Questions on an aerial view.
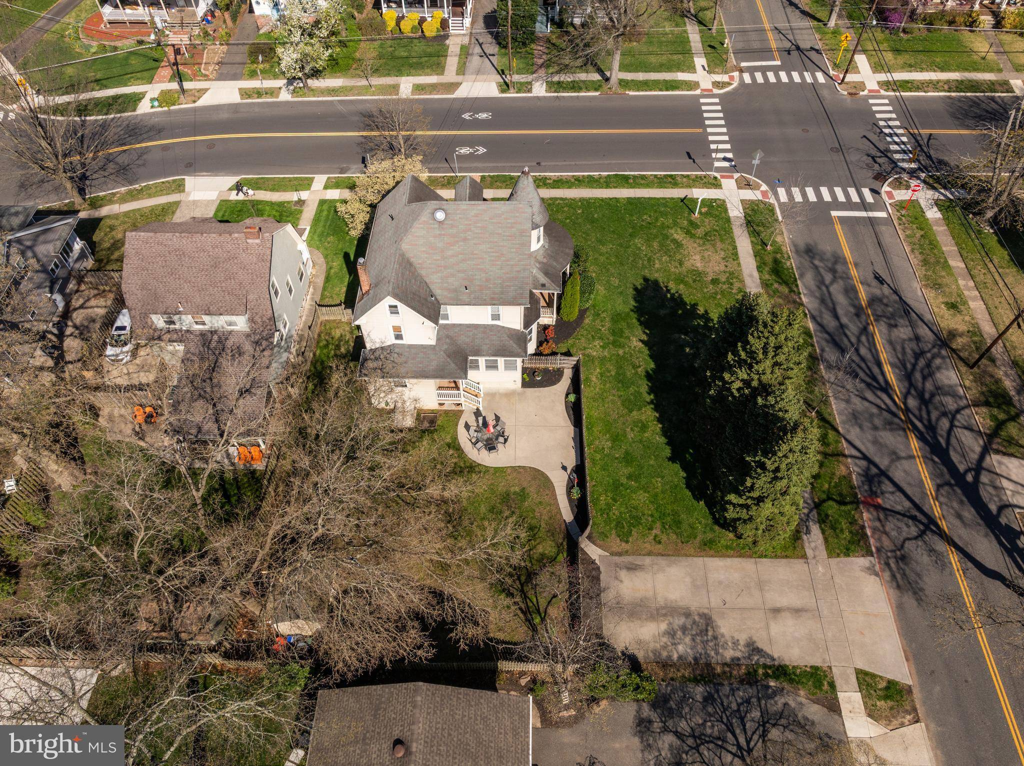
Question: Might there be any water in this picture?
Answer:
No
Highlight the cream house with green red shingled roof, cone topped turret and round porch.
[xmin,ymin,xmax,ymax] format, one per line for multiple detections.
[351,164,577,411]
